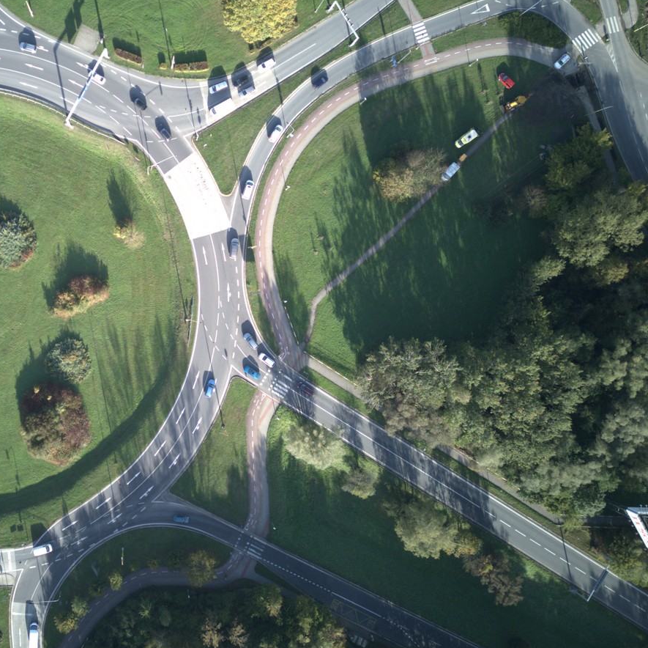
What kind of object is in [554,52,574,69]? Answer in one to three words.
car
